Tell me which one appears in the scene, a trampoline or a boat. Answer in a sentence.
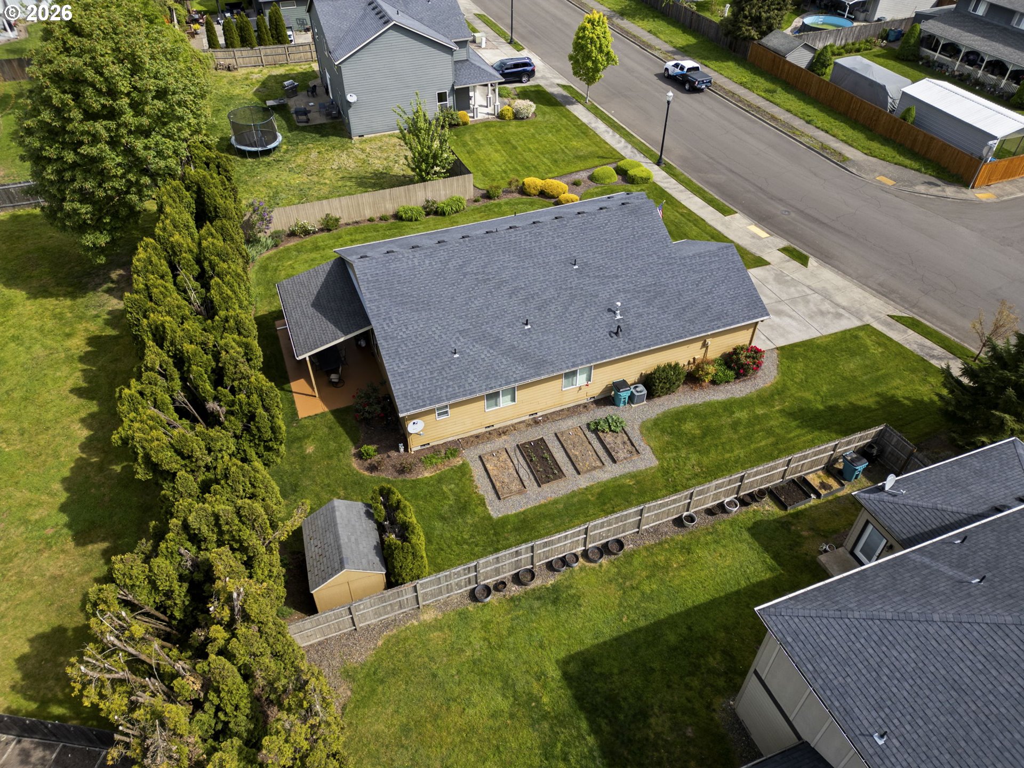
Looking from above, you can make out a trampoline.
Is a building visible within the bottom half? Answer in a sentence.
Yes, I can see a building within the bottom half.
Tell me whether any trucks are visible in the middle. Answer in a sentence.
No, no truck appears in the middle.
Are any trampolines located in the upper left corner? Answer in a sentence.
Yes, in the upper left corner there is a trampoline.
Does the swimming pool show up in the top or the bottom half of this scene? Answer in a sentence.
It is in the top half that the swimming pool appears.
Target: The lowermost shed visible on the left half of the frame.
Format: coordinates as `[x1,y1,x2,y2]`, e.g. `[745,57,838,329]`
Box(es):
[297,506,386,617]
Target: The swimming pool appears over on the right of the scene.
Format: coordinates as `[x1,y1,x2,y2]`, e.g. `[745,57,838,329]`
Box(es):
[800,14,856,34]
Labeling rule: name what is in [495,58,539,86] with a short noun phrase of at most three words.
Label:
car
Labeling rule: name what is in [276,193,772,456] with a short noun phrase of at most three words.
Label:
house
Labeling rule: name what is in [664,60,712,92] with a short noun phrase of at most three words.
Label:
truck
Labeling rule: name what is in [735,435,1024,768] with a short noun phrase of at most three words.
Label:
house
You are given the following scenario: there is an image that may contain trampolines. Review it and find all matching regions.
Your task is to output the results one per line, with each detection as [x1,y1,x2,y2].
[227,107,283,160]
